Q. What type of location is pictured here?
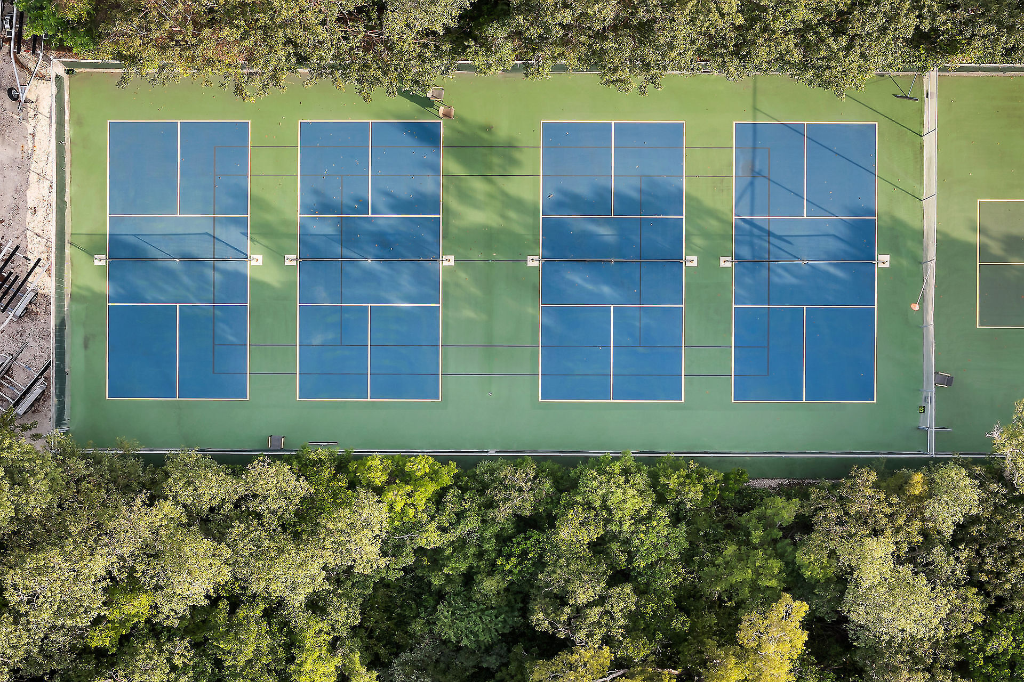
sports ground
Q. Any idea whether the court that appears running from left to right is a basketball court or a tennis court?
tennis court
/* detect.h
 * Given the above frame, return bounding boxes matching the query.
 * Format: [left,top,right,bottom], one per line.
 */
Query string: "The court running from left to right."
[70,71,921,478]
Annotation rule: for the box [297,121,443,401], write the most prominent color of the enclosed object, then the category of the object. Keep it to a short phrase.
blue sports court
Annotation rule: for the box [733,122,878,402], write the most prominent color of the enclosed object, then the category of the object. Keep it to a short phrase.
blue sports court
